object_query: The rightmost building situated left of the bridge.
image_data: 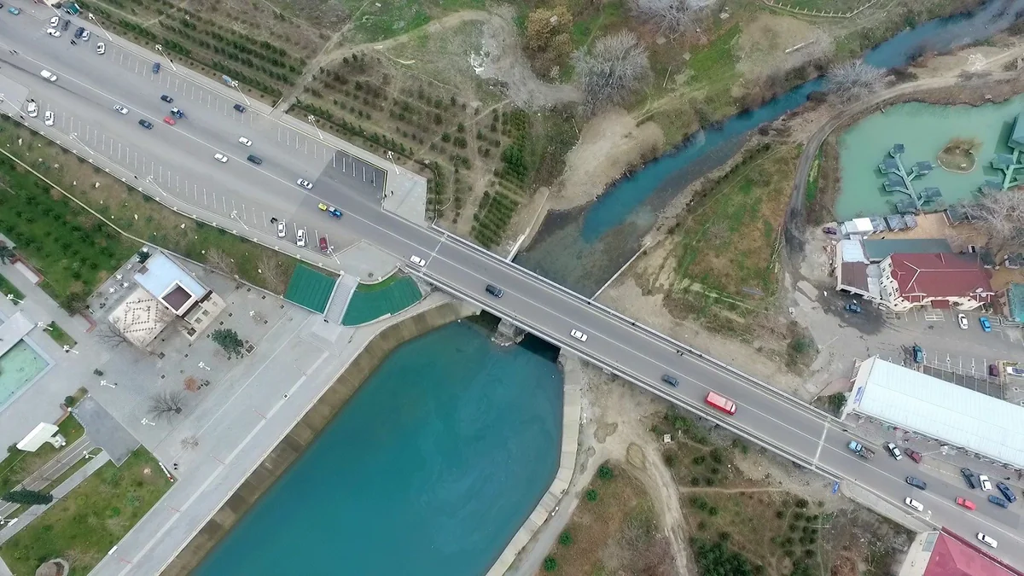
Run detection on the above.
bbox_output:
[132,249,231,344]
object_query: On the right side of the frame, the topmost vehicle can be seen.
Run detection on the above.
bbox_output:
[821,225,839,237]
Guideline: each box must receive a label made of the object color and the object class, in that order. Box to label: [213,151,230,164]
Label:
white vehicle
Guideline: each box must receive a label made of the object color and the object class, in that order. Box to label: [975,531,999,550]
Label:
white car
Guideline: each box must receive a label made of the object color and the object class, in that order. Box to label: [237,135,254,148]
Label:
white vehicle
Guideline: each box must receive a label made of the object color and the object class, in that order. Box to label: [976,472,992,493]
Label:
white car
